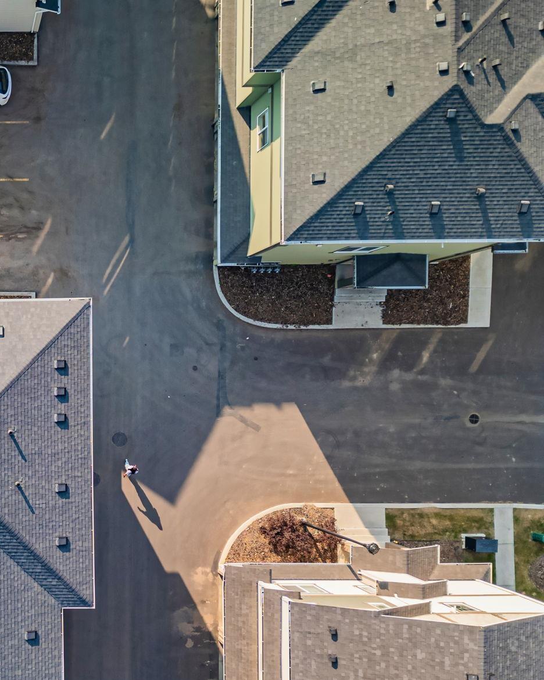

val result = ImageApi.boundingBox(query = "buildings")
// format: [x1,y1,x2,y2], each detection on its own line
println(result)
[216,537,544,680]
[0,295,98,680]
[207,0,544,288]
[0,0,62,35]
